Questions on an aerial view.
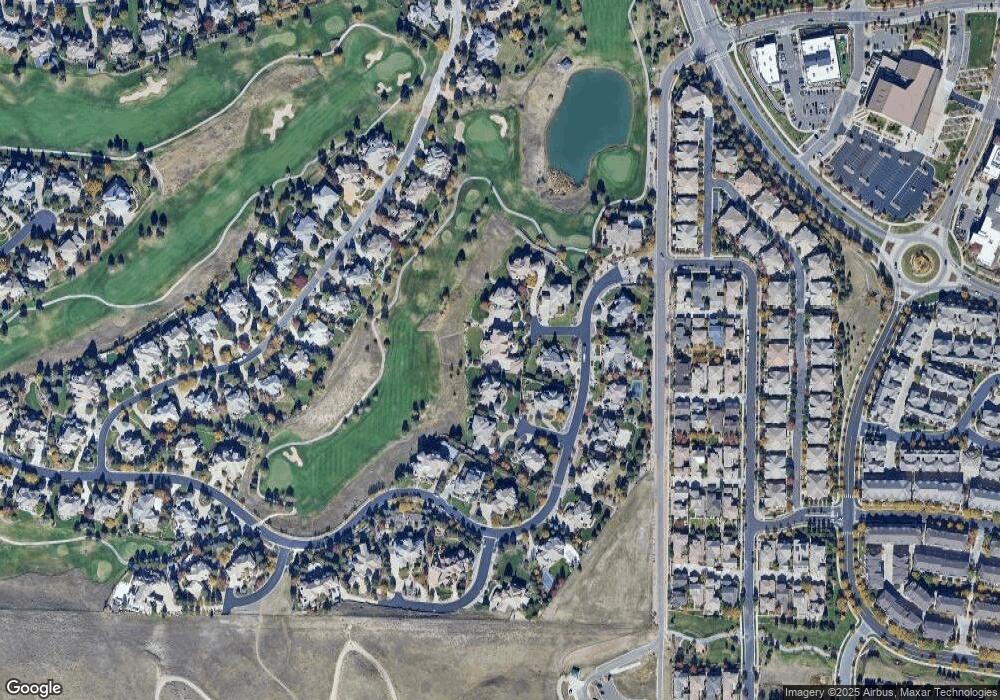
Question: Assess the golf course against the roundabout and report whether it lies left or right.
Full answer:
Relative to the roundabout, the golf course lies to the left.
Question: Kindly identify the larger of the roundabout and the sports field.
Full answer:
Compared with the sports field, the roundabout is the bigger one.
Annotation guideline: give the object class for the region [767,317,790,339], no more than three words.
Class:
house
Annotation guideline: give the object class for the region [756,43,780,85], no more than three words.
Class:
building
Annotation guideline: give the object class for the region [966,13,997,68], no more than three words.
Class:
sports field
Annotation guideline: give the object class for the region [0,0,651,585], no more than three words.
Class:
golf course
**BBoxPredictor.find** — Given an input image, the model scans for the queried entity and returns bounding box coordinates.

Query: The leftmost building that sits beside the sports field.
[868,56,943,135]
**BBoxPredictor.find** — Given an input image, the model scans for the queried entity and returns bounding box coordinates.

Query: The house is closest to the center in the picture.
[479,331,522,374]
